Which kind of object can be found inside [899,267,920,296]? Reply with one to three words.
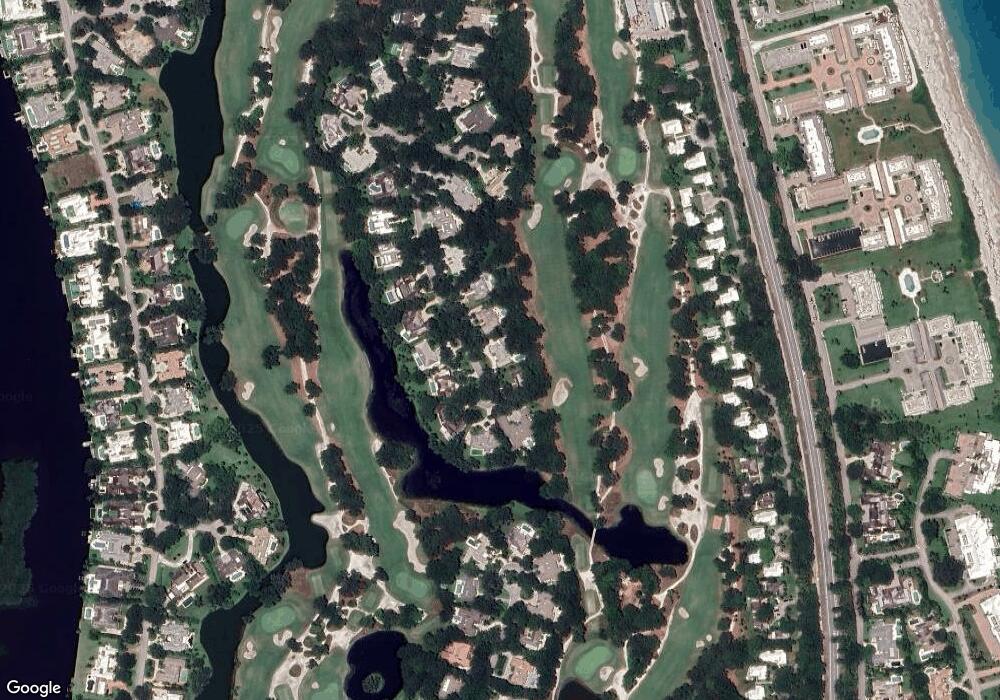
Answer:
swimming pool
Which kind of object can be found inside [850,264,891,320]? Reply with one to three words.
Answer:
building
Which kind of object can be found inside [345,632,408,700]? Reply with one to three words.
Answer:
pond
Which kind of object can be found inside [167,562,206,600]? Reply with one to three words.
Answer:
house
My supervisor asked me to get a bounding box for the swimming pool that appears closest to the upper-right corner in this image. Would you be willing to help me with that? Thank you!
[858,125,883,144]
